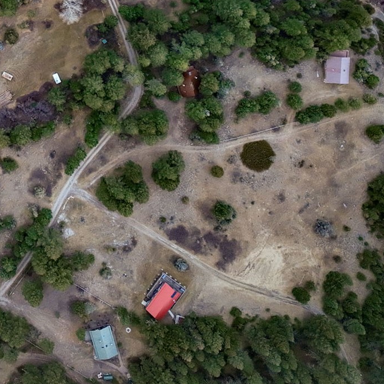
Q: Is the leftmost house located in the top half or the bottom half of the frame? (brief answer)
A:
bottom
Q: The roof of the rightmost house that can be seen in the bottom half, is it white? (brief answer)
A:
No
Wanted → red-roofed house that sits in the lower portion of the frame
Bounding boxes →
[142,270,186,317]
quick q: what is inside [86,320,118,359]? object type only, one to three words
house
